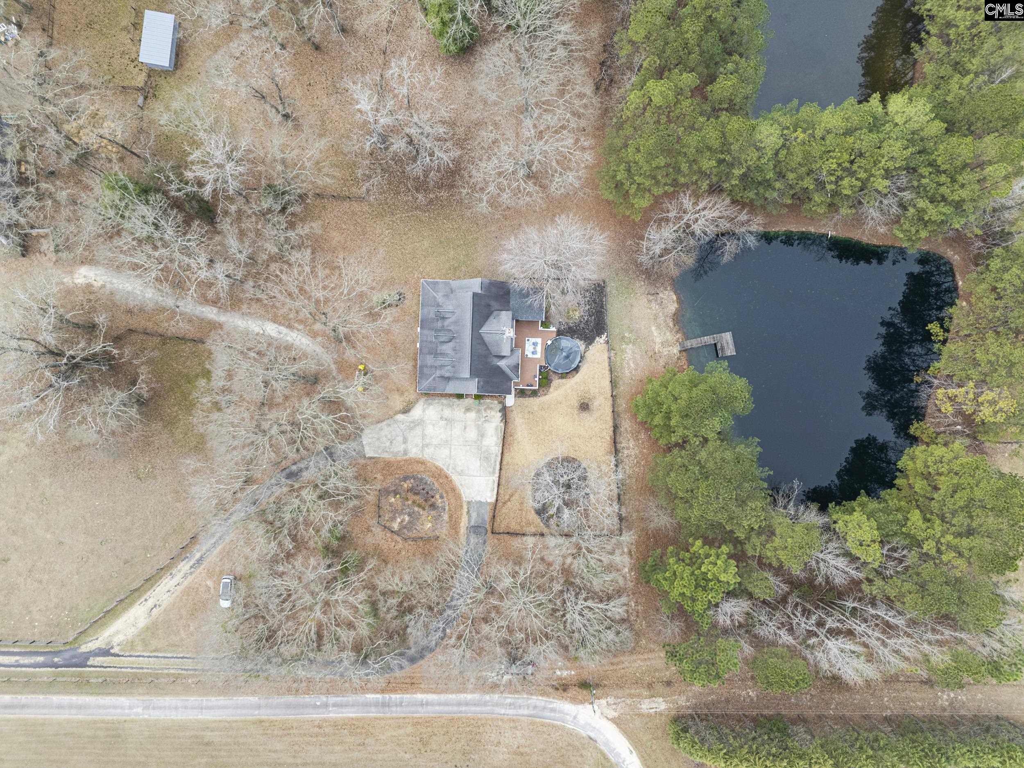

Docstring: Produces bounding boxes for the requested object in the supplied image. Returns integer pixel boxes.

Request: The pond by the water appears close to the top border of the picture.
[745,0,939,122]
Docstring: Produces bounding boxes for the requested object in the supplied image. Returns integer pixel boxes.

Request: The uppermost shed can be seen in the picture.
[139,10,182,73]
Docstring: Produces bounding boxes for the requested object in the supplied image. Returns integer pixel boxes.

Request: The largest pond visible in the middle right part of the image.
[676,232,956,507]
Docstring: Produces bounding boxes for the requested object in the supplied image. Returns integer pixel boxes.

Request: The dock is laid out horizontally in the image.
[680,332,736,357]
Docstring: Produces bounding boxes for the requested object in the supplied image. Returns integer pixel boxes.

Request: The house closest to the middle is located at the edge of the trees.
[417,278,546,399]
